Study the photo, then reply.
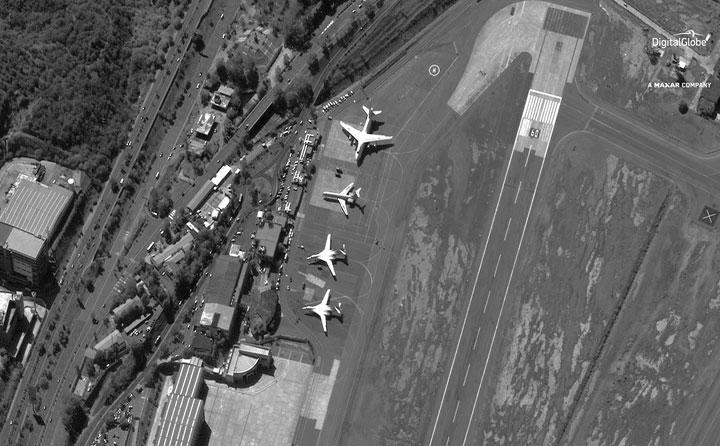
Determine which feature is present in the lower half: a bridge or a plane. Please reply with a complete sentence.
What appears in the lower half is a plane.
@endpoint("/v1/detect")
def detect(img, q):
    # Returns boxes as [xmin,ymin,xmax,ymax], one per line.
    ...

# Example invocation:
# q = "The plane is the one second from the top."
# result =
[323,182,361,215]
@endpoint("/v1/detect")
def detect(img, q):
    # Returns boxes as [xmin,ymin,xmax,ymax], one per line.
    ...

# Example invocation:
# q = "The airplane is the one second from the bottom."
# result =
[307,234,346,276]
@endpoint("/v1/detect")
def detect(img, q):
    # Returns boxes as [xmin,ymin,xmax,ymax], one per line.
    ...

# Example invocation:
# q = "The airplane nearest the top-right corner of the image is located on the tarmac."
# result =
[341,105,393,162]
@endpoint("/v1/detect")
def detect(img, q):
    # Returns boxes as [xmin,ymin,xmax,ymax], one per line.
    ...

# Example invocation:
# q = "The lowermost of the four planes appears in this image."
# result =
[302,289,341,331]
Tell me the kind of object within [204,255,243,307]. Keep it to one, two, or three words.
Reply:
building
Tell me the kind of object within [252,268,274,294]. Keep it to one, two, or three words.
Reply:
building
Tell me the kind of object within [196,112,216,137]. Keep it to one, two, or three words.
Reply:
house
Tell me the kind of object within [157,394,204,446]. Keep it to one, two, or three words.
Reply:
hangar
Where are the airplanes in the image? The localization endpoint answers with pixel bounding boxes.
[302,289,341,331]
[307,234,346,276]
[341,105,393,162]
[323,182,361,215]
